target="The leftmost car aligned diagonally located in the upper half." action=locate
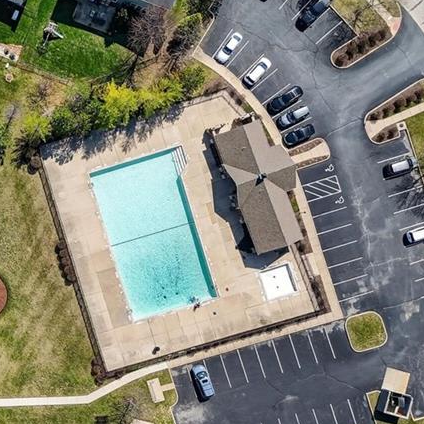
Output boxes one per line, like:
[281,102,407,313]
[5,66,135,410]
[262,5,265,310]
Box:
[219,31,244,62]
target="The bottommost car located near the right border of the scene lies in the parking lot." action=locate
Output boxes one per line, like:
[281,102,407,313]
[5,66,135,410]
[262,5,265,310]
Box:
[401,226,424,244]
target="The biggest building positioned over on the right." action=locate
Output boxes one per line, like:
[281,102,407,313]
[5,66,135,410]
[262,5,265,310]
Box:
[208,119,303,254]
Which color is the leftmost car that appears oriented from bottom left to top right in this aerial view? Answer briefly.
white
